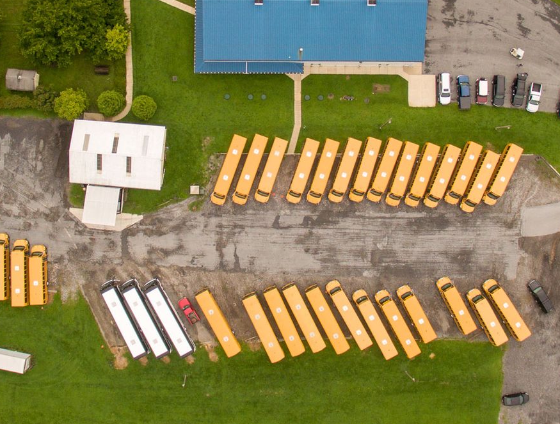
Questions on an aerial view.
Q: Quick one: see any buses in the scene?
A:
Yes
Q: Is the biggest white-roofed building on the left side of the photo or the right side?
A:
left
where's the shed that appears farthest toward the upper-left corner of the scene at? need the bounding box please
[6,70,39,91]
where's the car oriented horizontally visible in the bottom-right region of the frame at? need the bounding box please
[500,391,530,405]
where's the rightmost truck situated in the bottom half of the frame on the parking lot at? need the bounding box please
[527,278,554,315]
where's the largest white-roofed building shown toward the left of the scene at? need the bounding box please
[70,120,165,190]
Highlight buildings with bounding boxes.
[70,120,165,190]
[6,70,39,91]
[191,0,428,76]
